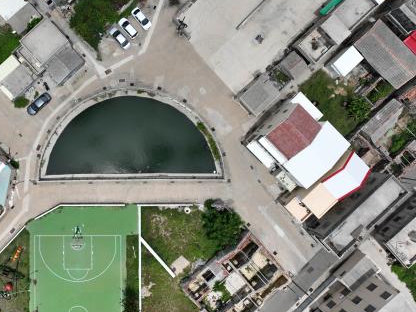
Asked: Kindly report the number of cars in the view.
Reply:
4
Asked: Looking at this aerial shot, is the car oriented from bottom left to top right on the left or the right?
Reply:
left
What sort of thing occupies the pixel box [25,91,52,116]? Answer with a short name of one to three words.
car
